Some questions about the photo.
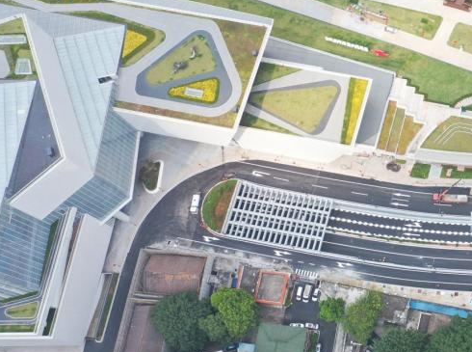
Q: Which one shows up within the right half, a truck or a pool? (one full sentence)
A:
You can see a truck within the right half.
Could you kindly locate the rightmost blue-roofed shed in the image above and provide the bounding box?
[410,300,472,320]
